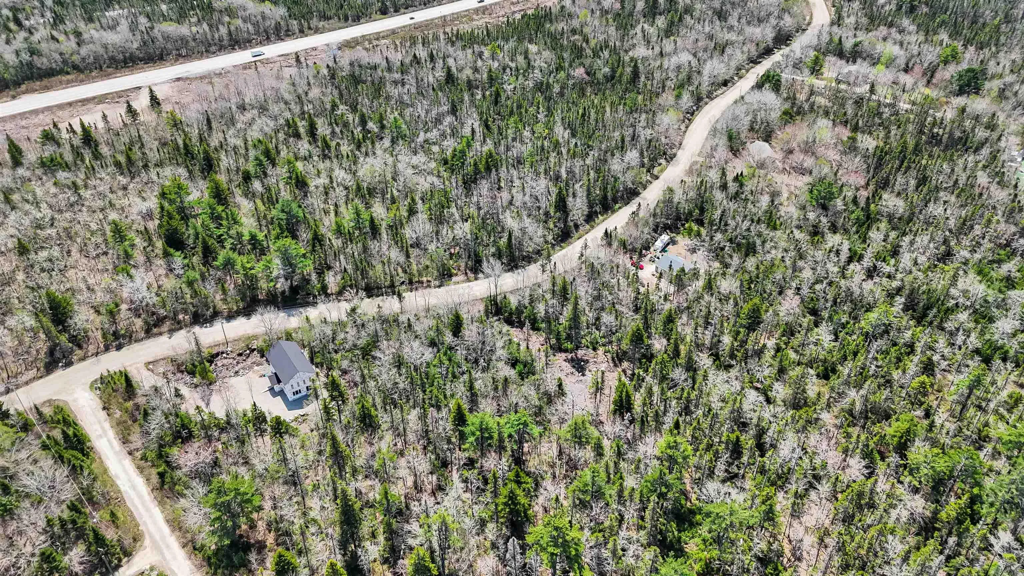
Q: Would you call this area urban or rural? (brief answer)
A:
rural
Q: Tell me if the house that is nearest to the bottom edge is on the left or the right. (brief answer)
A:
left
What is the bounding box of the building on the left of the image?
[260,342,317,401]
